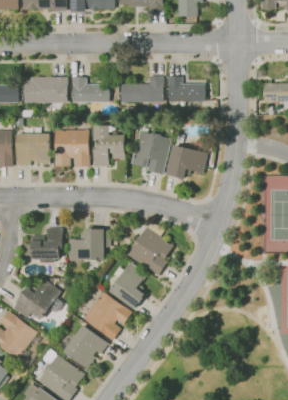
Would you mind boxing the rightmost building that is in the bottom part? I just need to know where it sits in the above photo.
[129,228,175,276]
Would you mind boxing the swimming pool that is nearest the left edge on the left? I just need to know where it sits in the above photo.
[24,264,48,276]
